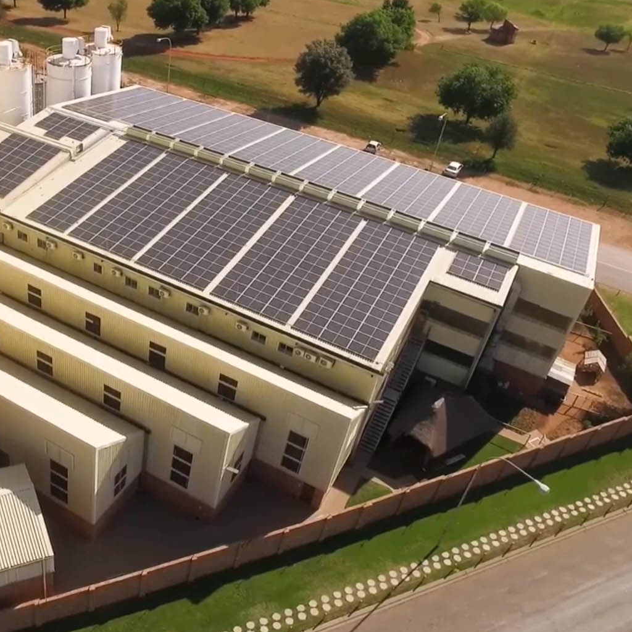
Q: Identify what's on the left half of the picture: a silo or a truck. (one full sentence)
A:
Visible on the left half of the picture is a silo.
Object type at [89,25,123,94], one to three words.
silo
